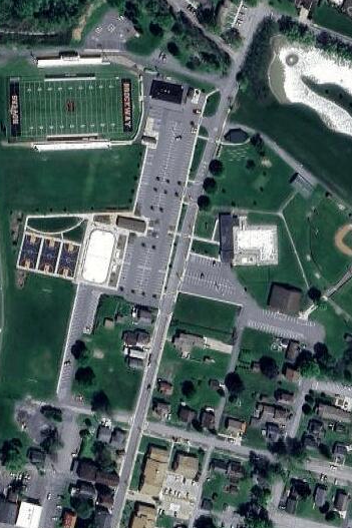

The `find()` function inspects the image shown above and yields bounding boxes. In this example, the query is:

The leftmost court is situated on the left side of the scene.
[20,234,42,268]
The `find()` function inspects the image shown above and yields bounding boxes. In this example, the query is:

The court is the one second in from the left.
[38,238,61,272]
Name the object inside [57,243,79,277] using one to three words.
basketball court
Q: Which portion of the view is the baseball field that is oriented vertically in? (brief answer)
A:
right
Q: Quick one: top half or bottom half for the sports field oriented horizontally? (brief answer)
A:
top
